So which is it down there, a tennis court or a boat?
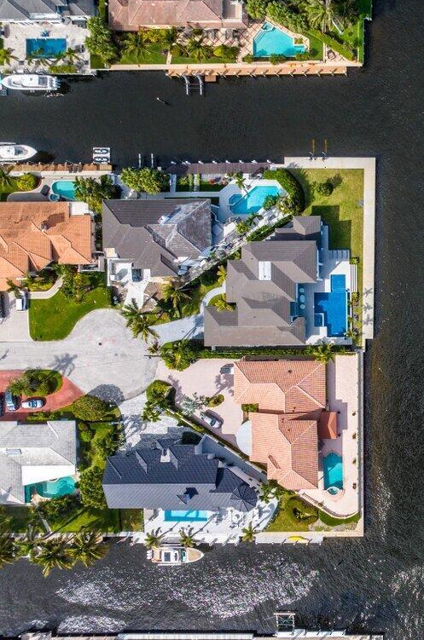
boat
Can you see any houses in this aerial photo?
Yes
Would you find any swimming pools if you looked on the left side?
Yes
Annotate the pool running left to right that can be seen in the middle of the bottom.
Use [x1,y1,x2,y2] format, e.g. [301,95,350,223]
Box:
[163,509,210,524]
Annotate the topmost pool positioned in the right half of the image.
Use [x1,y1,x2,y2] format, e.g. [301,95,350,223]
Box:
[251,19,306,59]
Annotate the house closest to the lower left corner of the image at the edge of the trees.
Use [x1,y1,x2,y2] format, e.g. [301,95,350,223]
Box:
[0,421,84,505]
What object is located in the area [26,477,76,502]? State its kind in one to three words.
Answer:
swimming pool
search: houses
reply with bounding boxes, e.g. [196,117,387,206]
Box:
[0,201,99,291]
[109,0,250,35]
[0,0,102,26]
[205,216,327,346]
[97,436,254,509]
[233,361,328,489]
[0,421,84,505]
[102,198,218,277]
